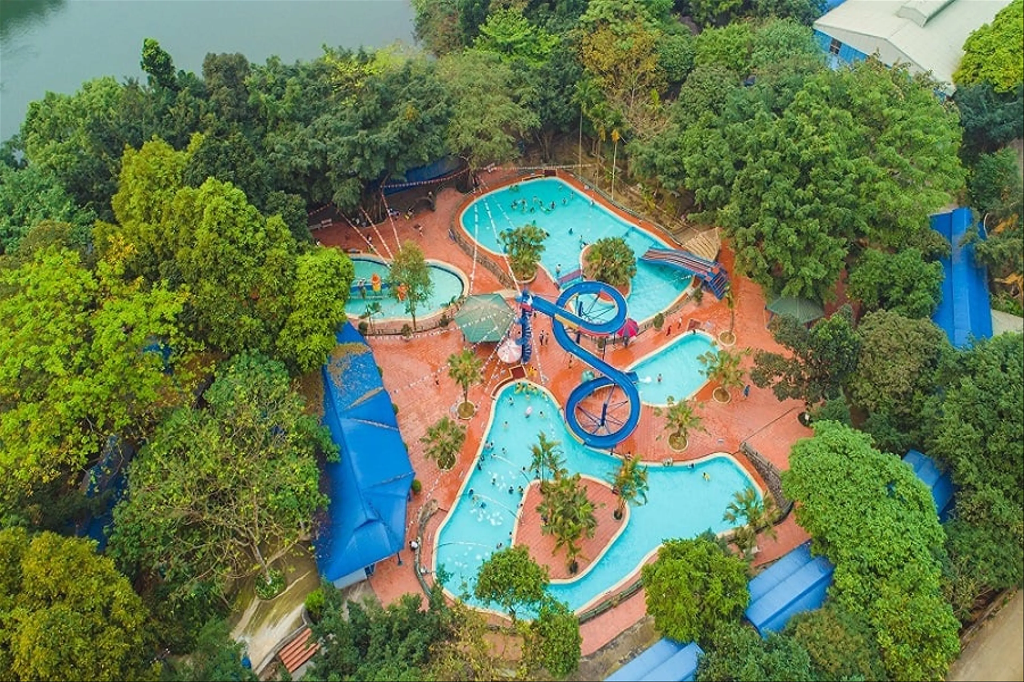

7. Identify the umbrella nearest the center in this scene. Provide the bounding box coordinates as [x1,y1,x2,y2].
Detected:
[498,342,522,371]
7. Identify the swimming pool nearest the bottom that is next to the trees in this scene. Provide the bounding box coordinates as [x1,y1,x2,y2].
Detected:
[432,379,763,621]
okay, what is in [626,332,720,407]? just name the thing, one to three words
swimming pool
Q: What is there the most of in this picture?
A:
trees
